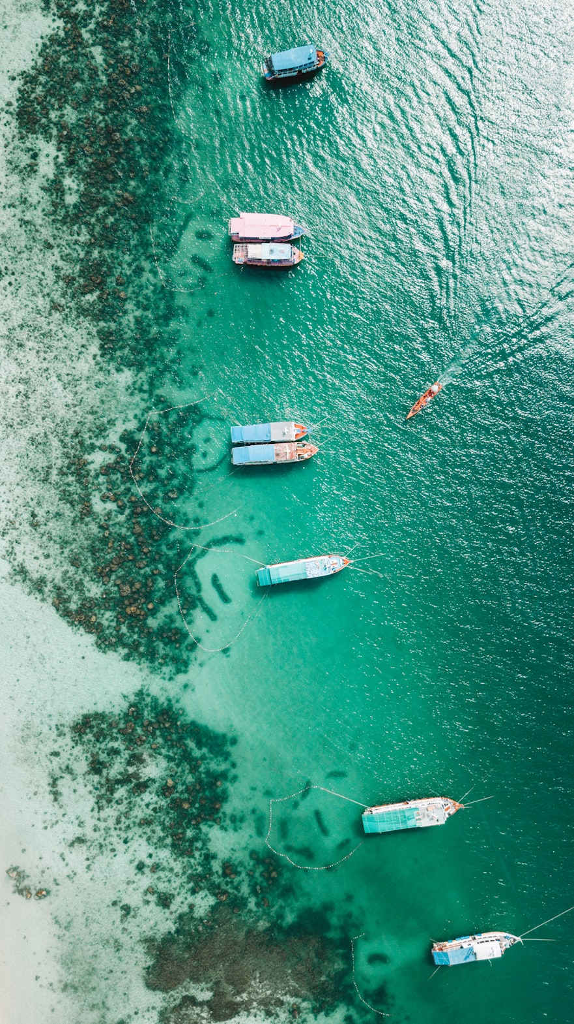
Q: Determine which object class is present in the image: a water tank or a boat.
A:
boat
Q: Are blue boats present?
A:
Yes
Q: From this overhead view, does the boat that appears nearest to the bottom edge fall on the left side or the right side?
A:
right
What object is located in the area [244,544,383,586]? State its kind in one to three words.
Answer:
boat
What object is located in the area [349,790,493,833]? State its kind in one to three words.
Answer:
boat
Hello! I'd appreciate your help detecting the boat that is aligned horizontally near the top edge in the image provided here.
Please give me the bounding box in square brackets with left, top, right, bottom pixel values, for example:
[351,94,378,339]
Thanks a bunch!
[262,44,331,82]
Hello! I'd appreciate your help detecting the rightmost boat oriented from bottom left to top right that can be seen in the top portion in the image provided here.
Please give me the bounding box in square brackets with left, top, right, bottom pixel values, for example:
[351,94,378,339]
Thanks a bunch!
[407,375,446,419]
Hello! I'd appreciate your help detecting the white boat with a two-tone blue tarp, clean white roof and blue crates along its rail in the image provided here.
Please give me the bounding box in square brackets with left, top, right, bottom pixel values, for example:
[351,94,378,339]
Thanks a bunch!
[430,906,574,970]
